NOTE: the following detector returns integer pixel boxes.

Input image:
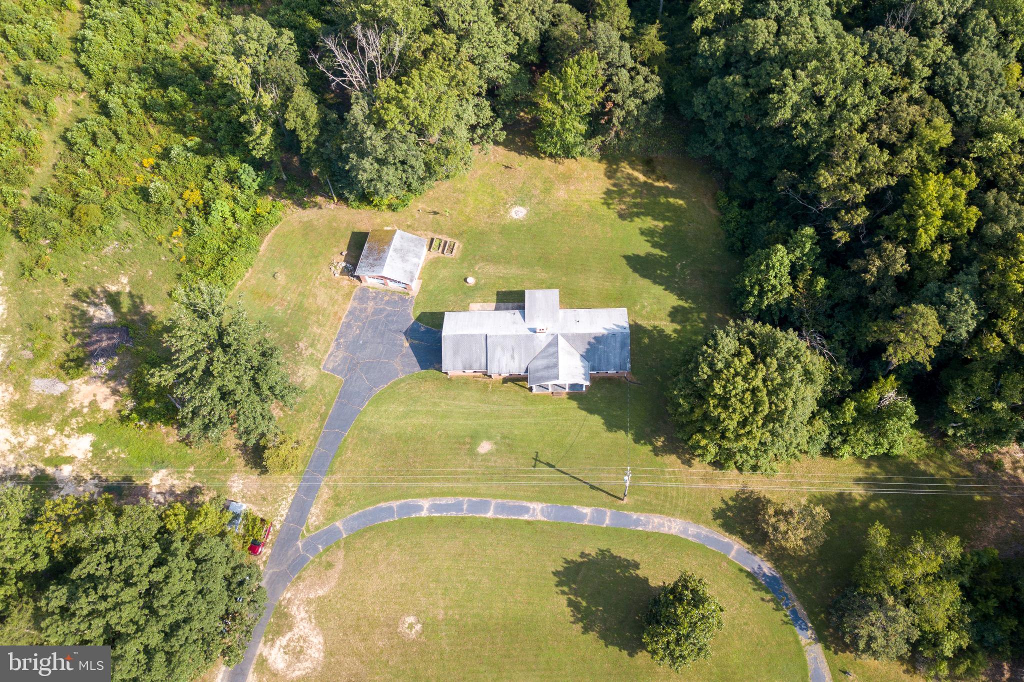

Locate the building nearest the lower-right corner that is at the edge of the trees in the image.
[441,289,632,400]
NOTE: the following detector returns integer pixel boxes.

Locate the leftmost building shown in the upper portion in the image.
[354,227,428,292]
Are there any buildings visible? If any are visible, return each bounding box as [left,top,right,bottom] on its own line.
[441,289,632,400]
[354,227,428,292]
